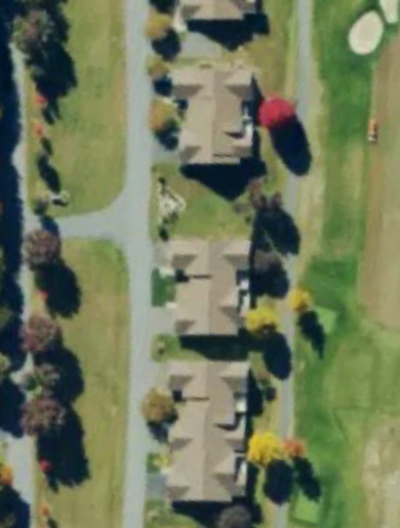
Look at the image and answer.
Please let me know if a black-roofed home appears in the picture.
No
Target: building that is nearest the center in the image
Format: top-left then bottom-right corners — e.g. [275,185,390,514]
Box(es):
[170,238,249,337]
